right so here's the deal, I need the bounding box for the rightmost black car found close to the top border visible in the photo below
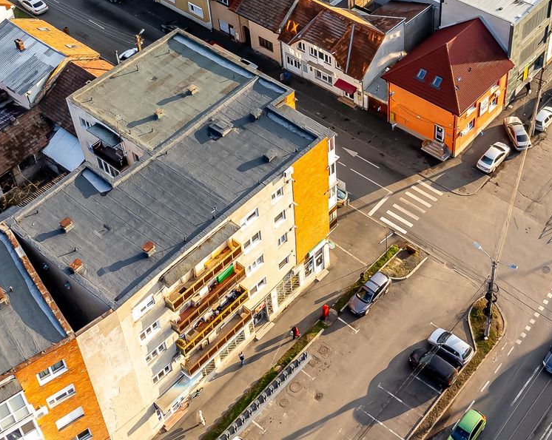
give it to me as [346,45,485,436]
[156,16,192,35]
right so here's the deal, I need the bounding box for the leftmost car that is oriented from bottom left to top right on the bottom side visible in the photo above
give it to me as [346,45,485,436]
[345,268,393,318]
